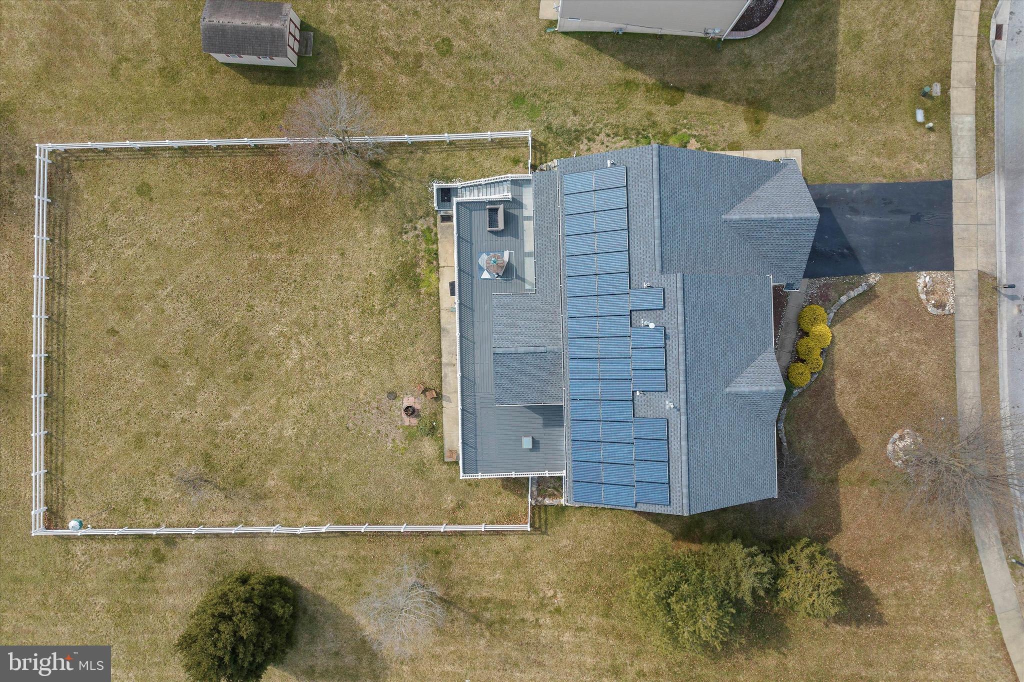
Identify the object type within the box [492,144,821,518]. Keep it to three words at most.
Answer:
house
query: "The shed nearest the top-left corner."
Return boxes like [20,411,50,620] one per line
[198,0,299,67]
